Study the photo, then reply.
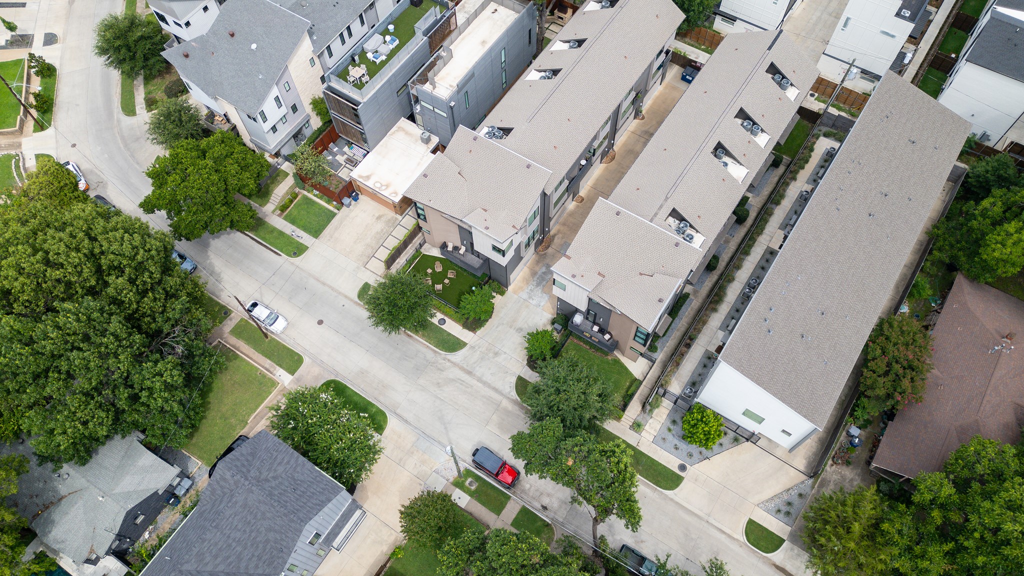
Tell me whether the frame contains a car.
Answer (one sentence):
Yes, the image includes a car.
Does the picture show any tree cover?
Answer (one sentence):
Yes, tree cover can be seen from above here.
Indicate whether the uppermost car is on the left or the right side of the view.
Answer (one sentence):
The uppermost car appears in the left half of the scene.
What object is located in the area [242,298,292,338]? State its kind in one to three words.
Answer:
car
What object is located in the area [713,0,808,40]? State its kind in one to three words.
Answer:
house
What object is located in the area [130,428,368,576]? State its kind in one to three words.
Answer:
house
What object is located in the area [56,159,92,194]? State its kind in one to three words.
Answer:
car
